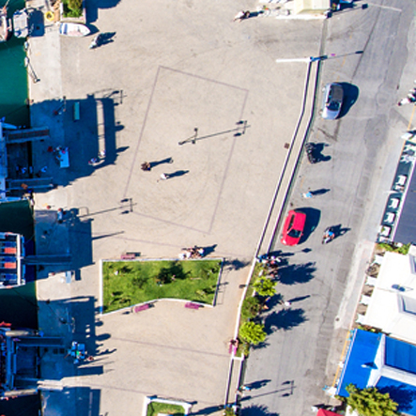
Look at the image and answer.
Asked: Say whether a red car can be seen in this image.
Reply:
Yes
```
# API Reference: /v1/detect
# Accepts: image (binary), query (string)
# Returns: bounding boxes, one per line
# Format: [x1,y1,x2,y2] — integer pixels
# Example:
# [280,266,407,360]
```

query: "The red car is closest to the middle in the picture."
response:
[279,209,306,246]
